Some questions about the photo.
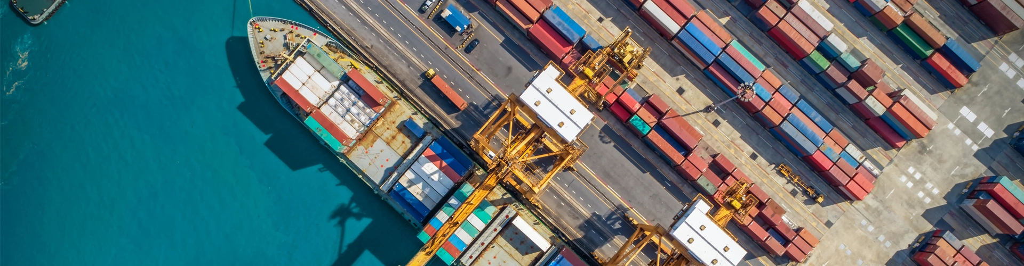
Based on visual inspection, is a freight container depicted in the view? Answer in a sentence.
Yes, the image includes a freight container.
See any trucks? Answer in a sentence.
Yes, there's a truck down there.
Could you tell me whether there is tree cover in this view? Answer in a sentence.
No, tree cover can't be seen anywhere here.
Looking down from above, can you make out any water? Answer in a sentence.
Yes, water shows up in the scene.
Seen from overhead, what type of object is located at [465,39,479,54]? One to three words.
car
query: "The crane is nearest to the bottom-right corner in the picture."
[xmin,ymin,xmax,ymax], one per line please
[597,181,763,266]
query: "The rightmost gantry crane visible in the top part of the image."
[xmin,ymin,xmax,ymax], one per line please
[582,25,654,108]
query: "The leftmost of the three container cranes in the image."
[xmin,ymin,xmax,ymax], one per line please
[403,47,612,266]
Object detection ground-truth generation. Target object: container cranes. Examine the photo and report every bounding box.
[403,47,612,266]
[582,25,654,108]
[597,181,763,266]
